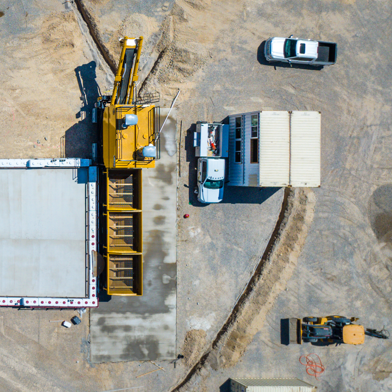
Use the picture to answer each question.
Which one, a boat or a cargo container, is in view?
cargo container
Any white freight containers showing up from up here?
Yes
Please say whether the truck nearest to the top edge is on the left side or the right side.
right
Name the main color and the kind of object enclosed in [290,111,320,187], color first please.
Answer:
white shipping container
